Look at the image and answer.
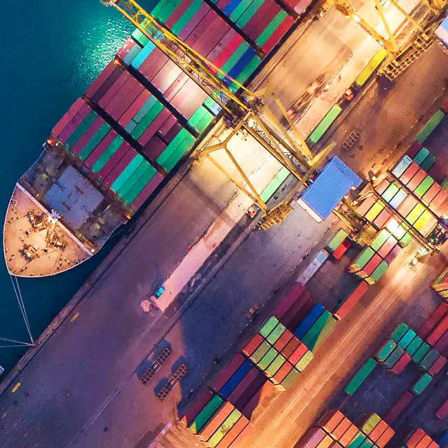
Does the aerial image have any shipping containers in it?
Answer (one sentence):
Yes, there is a shipping container in the image.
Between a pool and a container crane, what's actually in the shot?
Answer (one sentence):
Visible in the photo is a container crane.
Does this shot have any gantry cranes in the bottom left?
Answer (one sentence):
No, the scene shows no gantry crane in the bottom left.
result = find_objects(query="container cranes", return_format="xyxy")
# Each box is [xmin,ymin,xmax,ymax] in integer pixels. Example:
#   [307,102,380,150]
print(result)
[102,0,390,251]
[322,0,448,78]
[358,169,448,260]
